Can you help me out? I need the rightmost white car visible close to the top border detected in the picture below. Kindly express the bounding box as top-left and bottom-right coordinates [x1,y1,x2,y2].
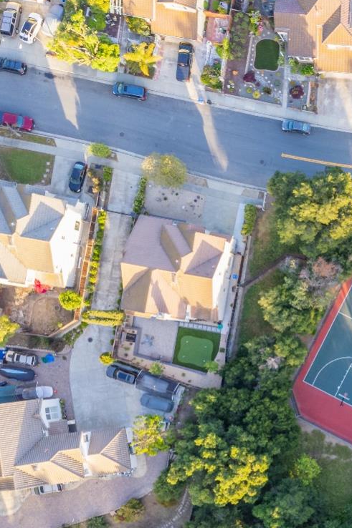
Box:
[21,12,42,44]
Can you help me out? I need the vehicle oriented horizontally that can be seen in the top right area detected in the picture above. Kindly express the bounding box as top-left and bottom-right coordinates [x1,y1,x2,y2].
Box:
[282,119,312,134]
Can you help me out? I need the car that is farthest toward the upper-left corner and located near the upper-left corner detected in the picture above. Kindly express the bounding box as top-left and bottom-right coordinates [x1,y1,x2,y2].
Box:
[0,2,22,37]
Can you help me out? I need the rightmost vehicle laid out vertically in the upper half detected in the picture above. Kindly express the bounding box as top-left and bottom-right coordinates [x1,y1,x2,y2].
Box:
[177,42,193,81]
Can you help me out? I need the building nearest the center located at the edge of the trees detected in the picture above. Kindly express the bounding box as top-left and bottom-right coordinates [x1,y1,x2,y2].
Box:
[121,216,241,323]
